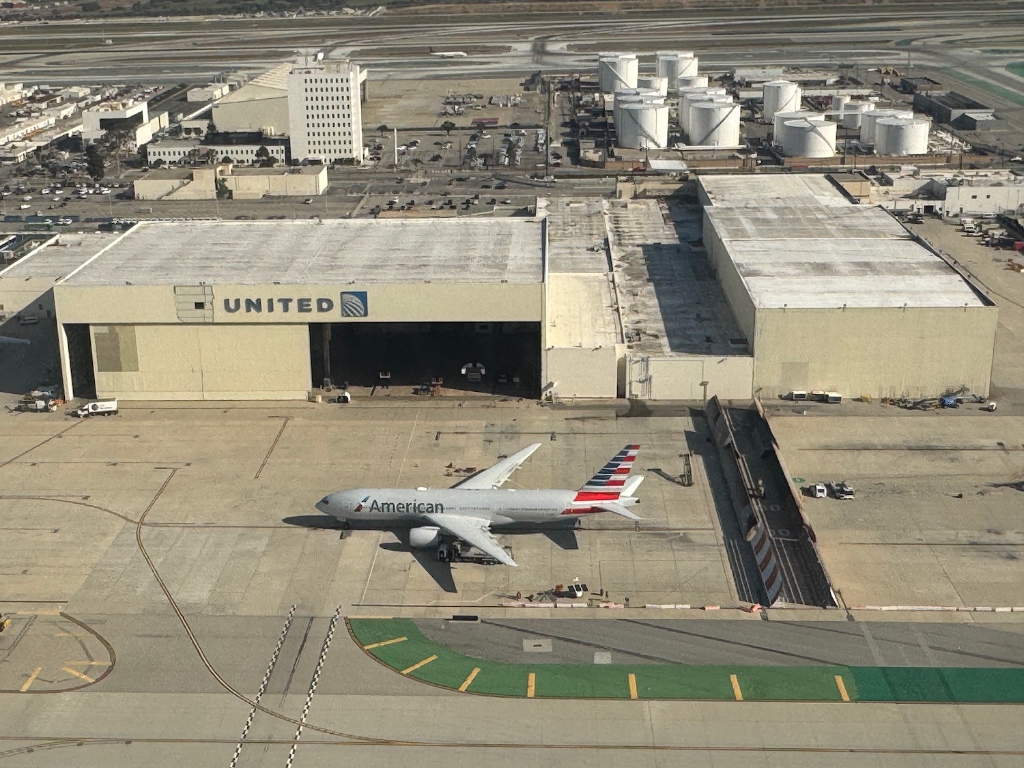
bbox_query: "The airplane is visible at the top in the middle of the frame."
[427,45,466,58]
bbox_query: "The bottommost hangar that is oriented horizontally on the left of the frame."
[52,220,551,400]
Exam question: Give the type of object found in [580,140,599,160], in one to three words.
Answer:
shed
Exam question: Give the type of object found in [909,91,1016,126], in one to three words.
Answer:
building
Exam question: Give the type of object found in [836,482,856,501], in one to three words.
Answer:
vehicle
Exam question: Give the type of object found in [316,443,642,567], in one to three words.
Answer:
airplane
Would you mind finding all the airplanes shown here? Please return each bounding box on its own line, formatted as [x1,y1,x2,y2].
[427,45,466,58]
[316,443,642,567]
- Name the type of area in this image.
airport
